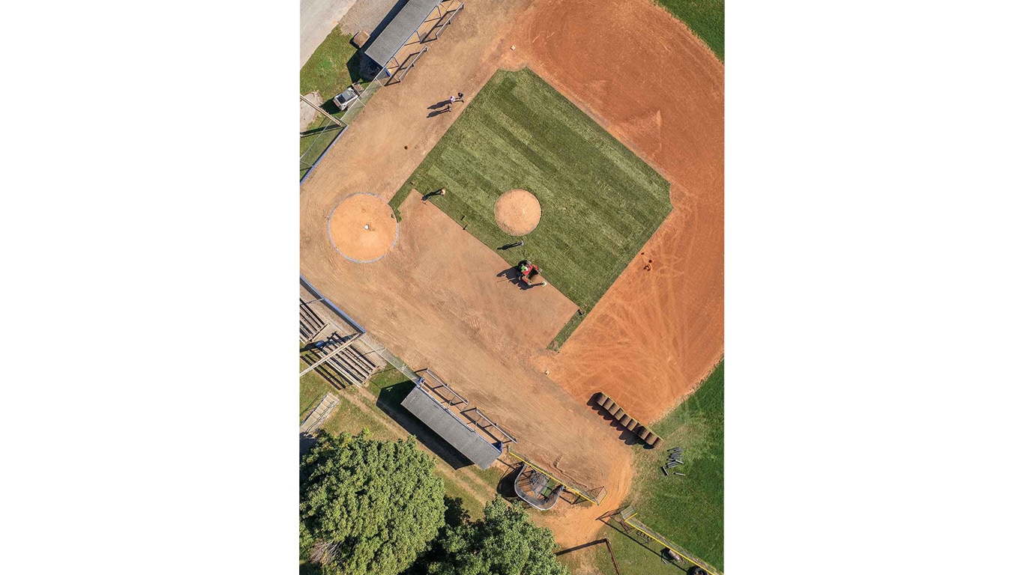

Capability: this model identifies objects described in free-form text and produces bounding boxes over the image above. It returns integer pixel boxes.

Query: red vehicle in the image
[516,261,544,288]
